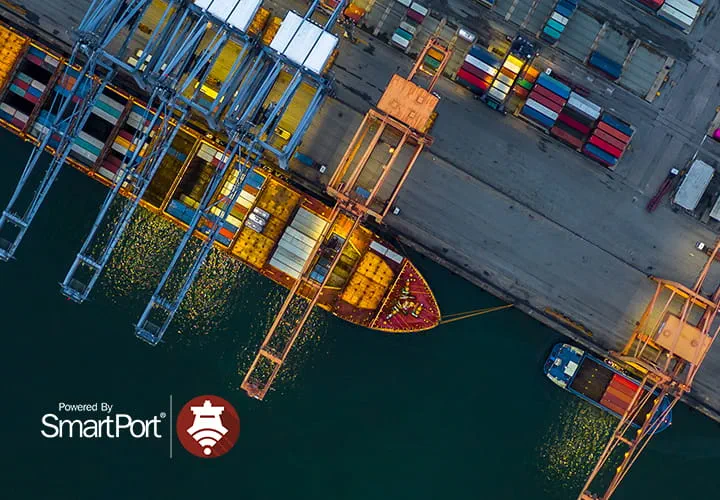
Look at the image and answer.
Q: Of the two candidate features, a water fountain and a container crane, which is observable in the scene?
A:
container crane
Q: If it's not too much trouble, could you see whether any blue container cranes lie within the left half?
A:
Yes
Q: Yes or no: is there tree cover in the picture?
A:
No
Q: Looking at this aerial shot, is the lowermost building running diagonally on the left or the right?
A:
right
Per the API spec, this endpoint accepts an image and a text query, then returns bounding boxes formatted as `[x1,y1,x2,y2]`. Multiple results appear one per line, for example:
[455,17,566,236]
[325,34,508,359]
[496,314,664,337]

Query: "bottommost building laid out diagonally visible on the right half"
[674,159,717,210]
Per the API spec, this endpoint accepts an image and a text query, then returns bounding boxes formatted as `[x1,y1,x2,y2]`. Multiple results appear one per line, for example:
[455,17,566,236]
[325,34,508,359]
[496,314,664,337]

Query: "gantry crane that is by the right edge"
[581,255,720,500]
